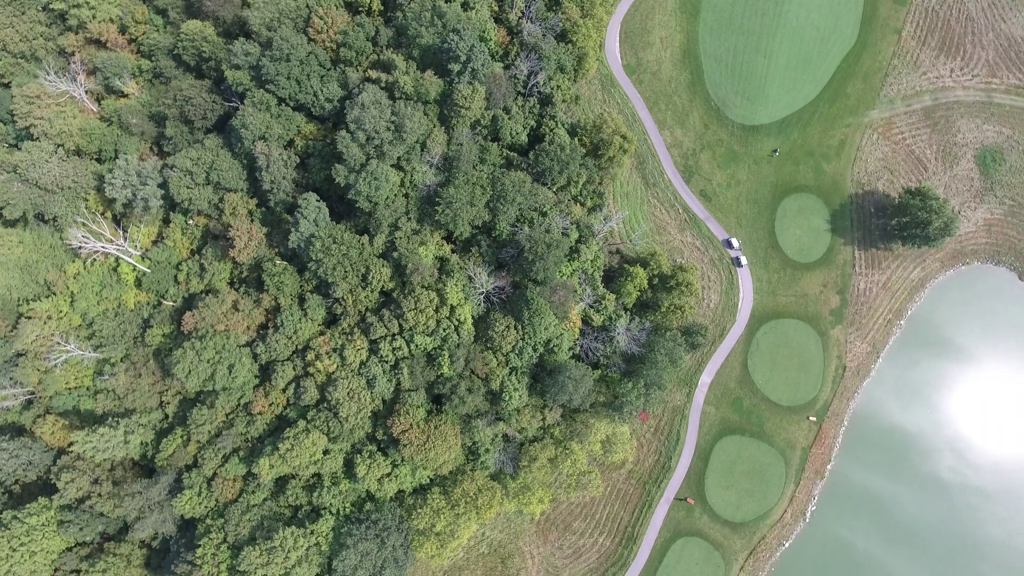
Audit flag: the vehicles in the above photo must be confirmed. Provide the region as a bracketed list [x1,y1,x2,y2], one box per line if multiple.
[736,255,748,268]
[728,238,741,251]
